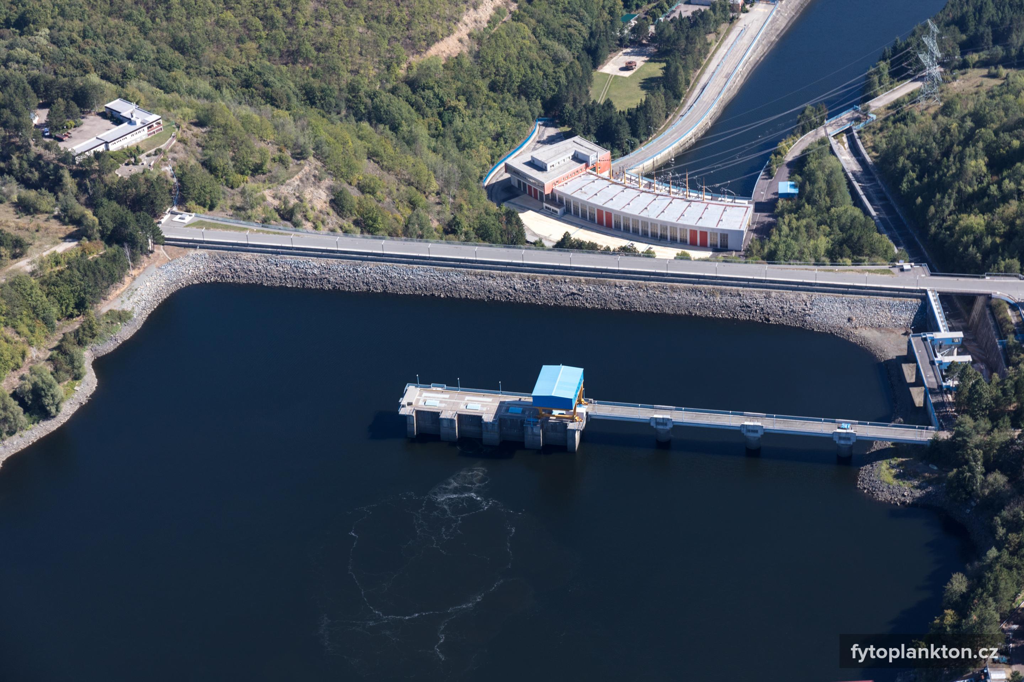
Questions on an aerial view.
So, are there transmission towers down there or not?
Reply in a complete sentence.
Yes, I can see a transmission tower in this picture.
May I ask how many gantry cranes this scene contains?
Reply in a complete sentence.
The picture shows 1 gantry crane.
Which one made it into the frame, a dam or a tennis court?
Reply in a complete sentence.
The image shows a dam.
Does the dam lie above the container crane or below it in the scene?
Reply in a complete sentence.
Within the scene, the dam can be found above the container crane.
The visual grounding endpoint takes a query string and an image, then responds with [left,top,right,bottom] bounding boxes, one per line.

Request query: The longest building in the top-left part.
[68,98,163,159]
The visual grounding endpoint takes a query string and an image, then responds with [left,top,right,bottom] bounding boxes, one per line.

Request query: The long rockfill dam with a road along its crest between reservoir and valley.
[158,212,930,329]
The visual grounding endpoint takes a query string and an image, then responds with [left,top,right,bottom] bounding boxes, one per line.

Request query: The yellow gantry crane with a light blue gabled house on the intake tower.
[532,361,589,422]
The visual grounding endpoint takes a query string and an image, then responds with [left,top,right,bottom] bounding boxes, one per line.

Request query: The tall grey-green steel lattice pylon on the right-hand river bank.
[921,19,947,94]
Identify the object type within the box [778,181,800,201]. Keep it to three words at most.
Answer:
shed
